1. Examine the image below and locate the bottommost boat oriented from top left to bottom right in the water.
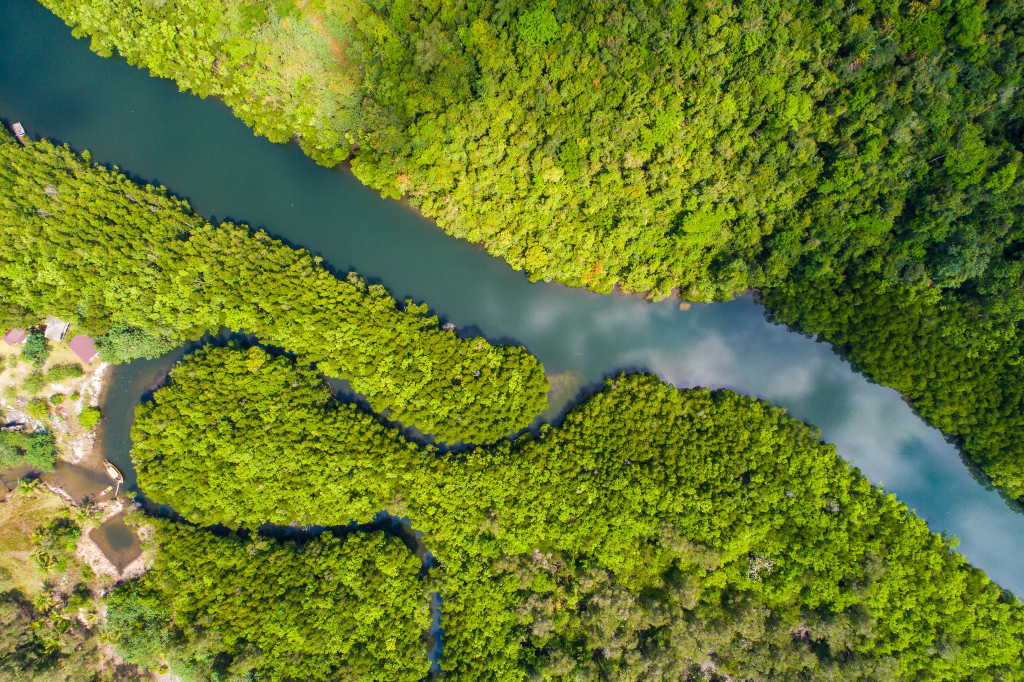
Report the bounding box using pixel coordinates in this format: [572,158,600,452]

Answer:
[103,458,123,485]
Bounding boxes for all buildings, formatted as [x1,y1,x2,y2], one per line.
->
[4,325,32,346]
[43,317,70,343]
[68,339,96,366]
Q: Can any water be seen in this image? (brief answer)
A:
Yes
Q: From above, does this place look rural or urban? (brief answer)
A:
rural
